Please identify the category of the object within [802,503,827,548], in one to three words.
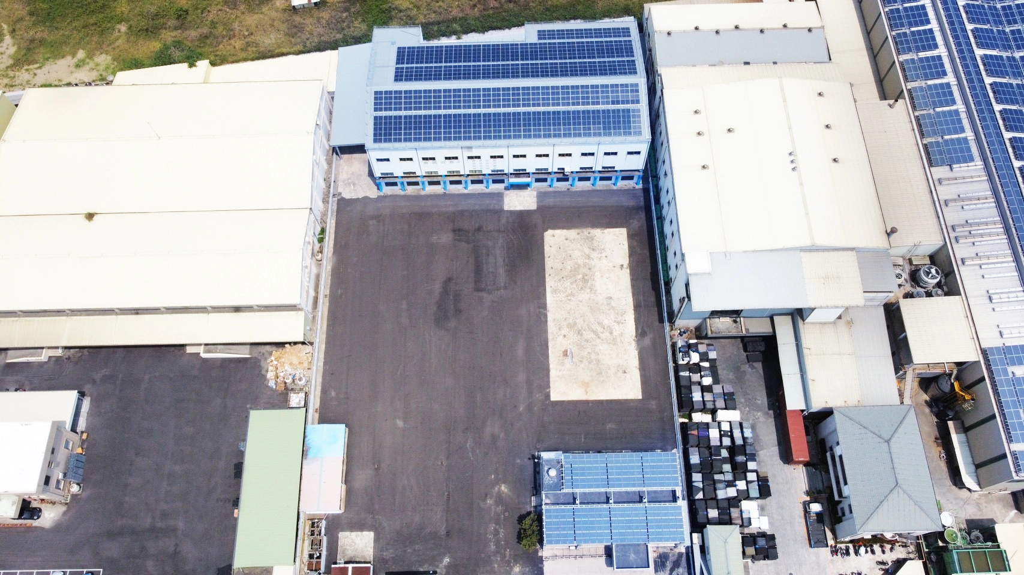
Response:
truck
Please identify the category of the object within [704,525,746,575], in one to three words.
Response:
shed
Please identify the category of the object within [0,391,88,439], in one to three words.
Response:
building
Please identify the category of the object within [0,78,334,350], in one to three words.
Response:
warehouse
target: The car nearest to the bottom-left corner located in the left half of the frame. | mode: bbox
[14,506,48,521]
